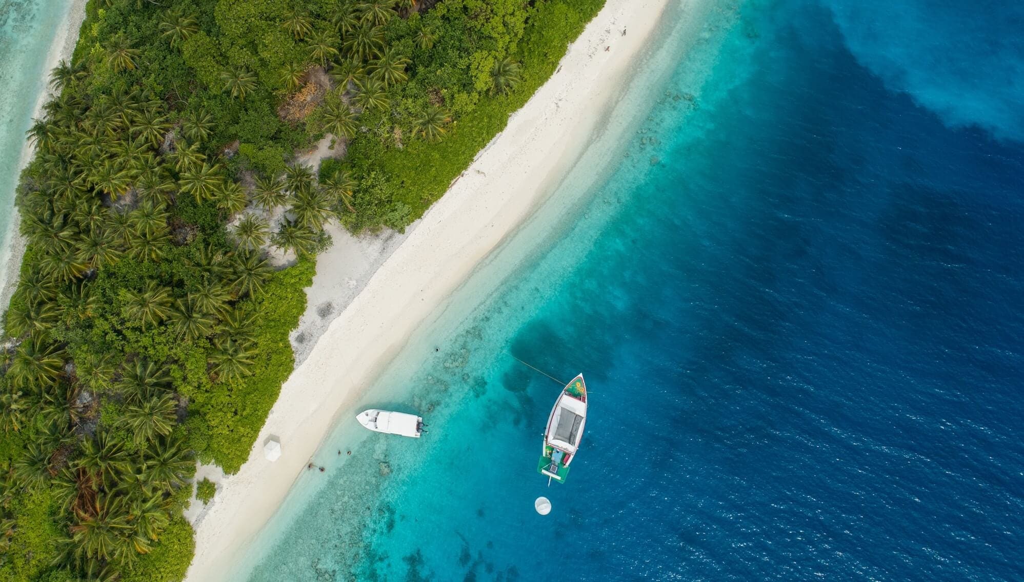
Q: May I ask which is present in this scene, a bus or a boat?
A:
boat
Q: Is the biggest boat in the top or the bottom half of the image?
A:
bottom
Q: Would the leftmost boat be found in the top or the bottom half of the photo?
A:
bottom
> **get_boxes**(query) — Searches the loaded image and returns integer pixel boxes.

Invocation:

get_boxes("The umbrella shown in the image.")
[264,441,281,461]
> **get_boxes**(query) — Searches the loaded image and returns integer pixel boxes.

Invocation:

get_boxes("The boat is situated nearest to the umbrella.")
[356,409,430,438]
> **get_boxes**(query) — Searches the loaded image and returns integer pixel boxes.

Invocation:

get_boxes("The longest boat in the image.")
[537,373,588,487]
